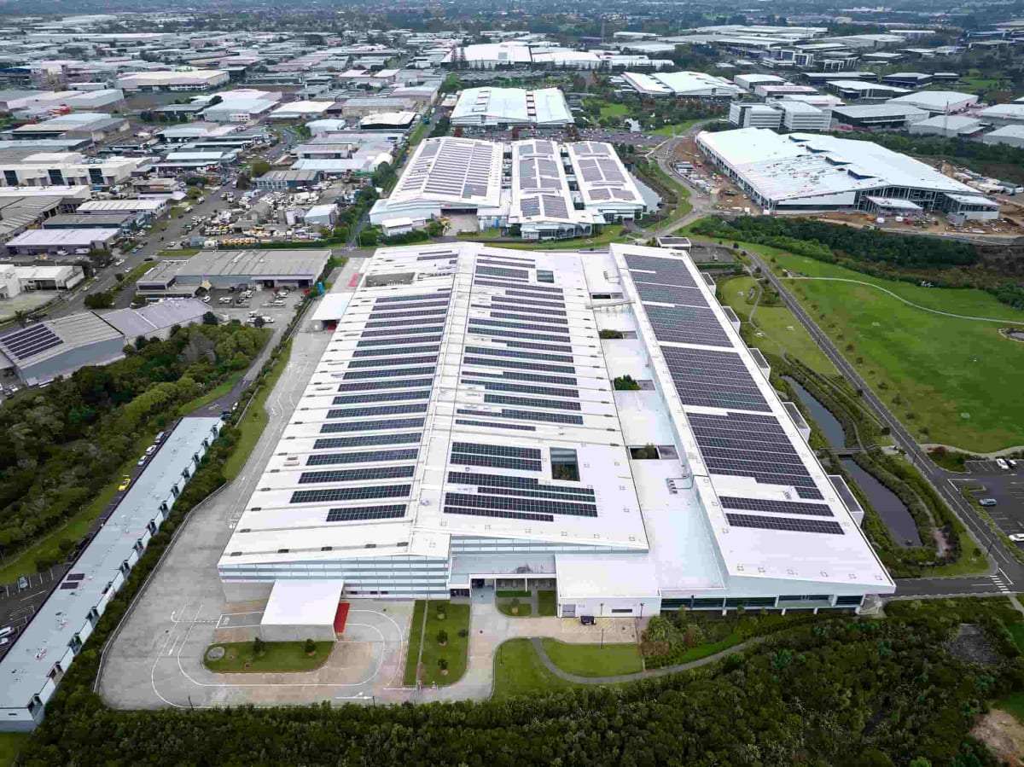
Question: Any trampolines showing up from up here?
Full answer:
No, there's no trampoline here.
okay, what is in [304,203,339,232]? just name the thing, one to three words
shed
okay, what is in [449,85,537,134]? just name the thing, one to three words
building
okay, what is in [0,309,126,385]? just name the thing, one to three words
building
